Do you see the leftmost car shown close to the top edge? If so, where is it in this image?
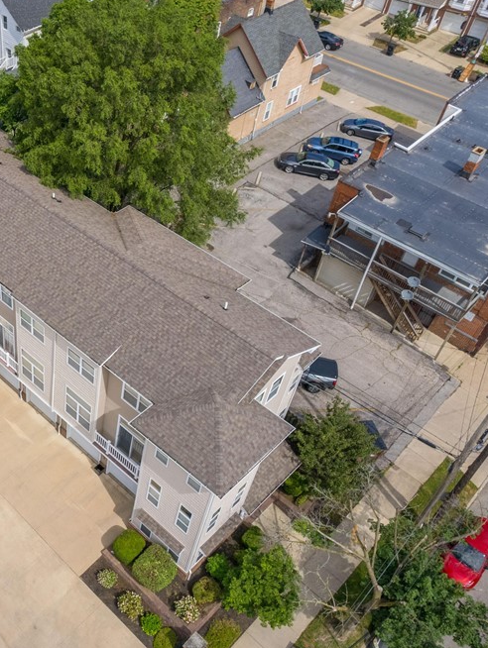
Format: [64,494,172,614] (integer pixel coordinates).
[317,26,345,48]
